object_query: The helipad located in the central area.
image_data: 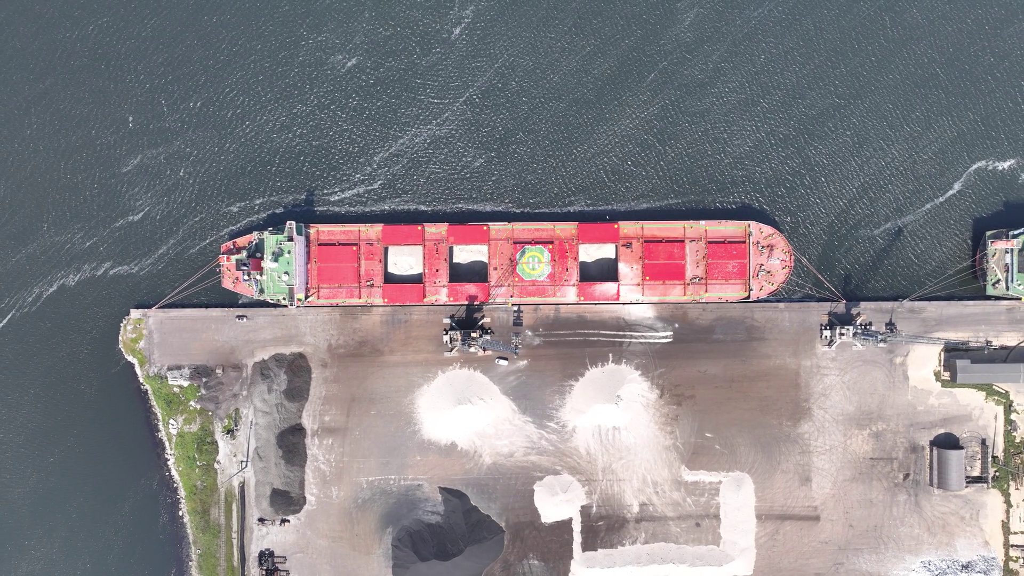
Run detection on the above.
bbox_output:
[497,227,569,298]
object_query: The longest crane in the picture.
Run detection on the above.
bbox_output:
[820,314,998,351]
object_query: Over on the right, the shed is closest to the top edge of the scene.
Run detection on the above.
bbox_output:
[946,356,1024,384]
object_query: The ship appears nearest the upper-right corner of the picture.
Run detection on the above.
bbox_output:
[975,223,1024,302]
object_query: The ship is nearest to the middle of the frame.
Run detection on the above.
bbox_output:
[213,219,795,310]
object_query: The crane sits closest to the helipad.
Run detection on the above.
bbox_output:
[442,317,521,357]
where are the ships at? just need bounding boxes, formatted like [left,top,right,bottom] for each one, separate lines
[213,219,795,310]
[975,223,1024,302]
